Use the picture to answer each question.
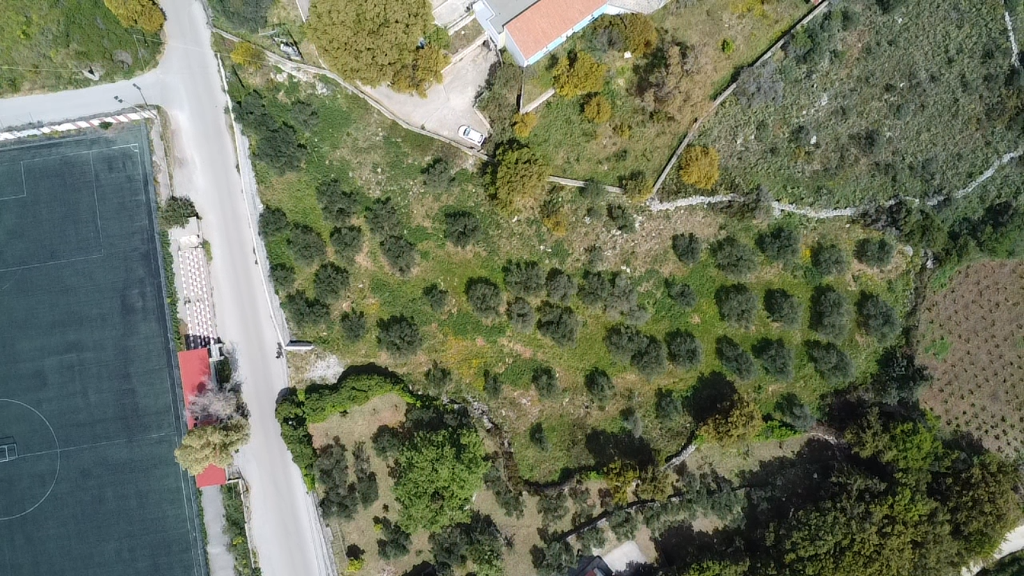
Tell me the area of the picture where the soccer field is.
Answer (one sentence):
The soccer field is in the left part of the image.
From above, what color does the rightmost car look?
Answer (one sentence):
In this view, the rightmost car is white.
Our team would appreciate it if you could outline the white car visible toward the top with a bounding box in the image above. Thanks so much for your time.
[458,125,487,147]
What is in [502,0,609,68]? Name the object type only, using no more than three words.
house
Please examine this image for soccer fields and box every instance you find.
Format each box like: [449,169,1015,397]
[0,122,207,576]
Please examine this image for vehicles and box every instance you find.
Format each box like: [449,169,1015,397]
[277,344,282,357]
[458,125,487,147]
